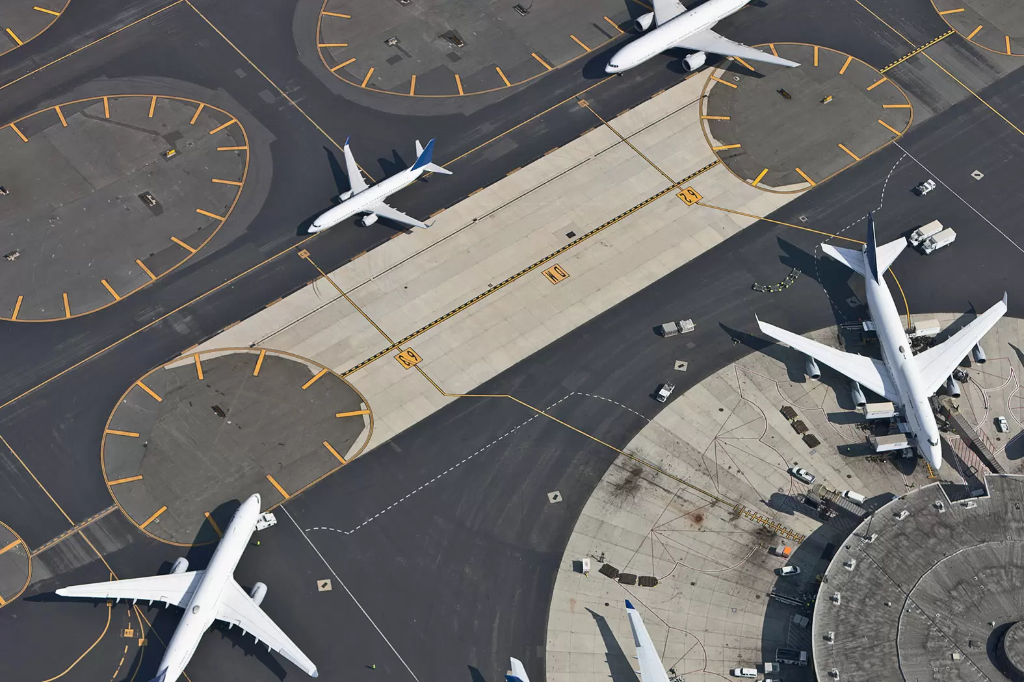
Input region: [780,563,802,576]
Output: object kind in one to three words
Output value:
vehicle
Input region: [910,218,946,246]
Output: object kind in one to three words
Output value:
truck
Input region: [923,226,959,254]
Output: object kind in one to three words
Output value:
truck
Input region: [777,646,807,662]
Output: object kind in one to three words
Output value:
vehicle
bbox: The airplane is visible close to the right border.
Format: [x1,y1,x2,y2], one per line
[759,209,1010,470]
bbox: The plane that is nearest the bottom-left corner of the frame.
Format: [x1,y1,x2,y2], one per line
[54,494,316,682]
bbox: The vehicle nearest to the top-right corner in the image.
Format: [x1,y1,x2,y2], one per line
[916,175,938,192]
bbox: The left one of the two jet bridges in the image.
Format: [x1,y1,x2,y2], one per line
[805,482,869,521]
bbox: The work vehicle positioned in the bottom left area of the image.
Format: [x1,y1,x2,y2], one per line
[253,510,280,532]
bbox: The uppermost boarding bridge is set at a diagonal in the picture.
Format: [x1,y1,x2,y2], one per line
[929,395,1006,472]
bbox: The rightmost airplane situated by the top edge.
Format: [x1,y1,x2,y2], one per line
[606,0,802,74]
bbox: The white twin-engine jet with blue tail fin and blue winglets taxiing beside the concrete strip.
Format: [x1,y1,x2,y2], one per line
[308,136,453,232]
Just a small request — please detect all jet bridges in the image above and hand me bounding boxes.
[929,395,1006,472]
[805,482,869,521]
